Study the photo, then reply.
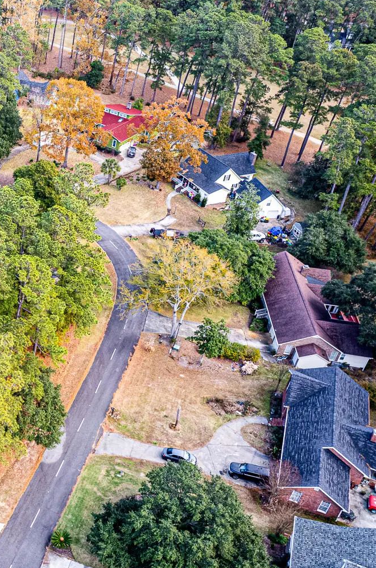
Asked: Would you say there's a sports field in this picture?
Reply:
No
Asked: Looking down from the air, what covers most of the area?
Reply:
trees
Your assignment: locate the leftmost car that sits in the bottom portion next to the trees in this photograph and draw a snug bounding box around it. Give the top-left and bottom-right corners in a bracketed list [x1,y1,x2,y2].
[160,445,200,469]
